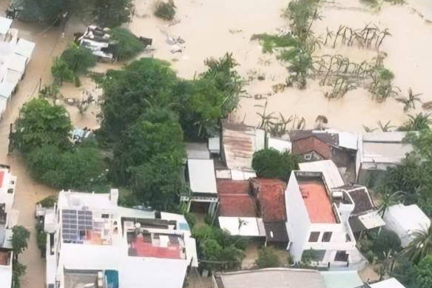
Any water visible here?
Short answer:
Yes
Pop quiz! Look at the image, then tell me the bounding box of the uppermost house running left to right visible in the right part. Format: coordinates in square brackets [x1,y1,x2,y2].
[290,132,343,147]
